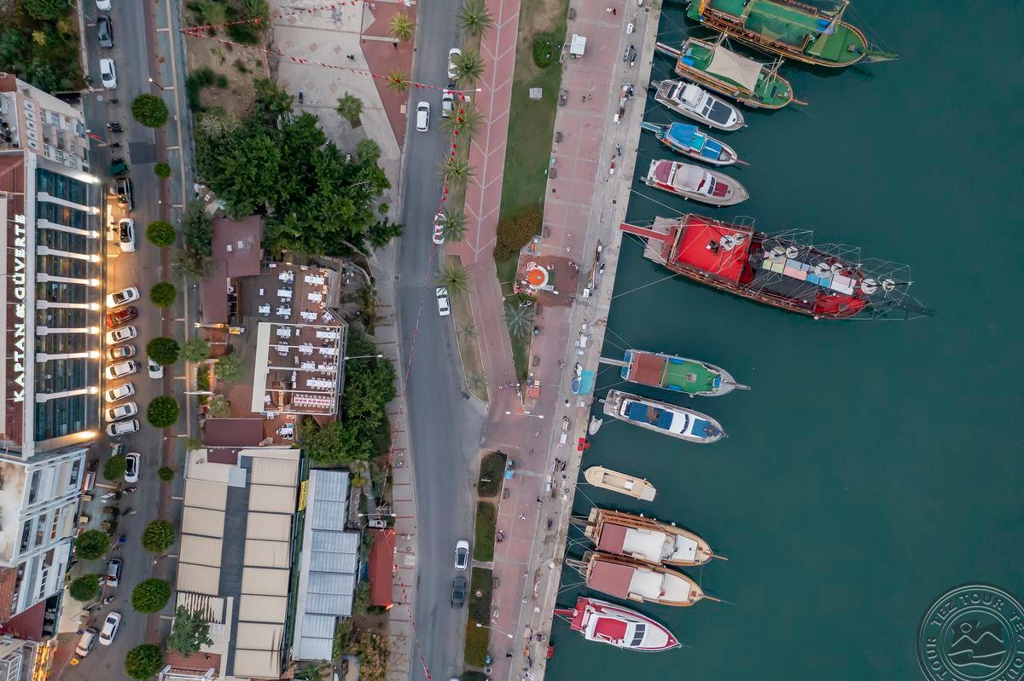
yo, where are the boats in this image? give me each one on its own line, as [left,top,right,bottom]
[588,415,603,434]
[658,0,899,63]
[577,467,657,508]
[646,80,747,128]
[559,539,722,606]
[655,18,807,108]
[553,597,686,653]
[632,160,749,215]
[640,121,749,165]
[599,391,725,441]
[568,496,728,591]
[595,328,750,396]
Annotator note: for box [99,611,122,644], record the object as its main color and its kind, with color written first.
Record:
white car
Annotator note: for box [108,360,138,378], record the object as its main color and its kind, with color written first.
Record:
white car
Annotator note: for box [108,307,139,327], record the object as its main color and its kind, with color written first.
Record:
red car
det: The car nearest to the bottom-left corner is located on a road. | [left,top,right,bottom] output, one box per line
[71,625,99,659]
